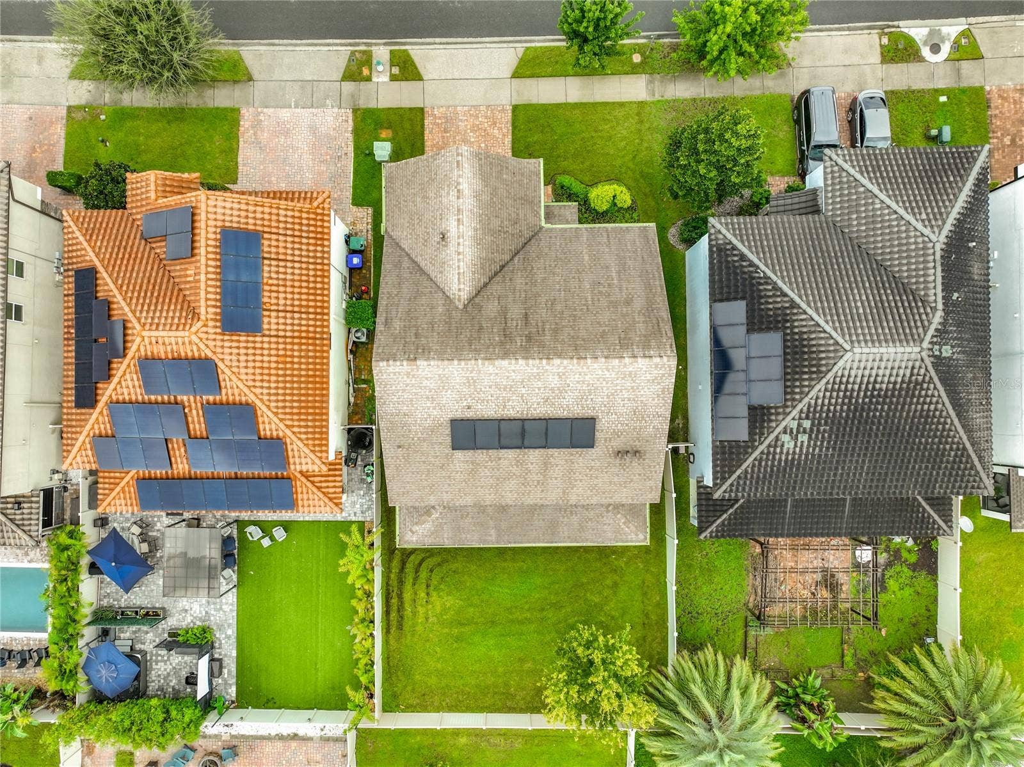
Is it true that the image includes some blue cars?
No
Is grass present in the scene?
Yes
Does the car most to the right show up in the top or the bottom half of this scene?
top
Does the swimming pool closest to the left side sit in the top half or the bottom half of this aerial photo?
bottom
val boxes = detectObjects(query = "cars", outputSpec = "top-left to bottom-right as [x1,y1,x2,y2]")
[791,85,839,182]
[849,85,897,146]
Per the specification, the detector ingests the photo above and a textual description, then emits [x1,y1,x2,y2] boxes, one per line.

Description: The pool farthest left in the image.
[0,563,51,638]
